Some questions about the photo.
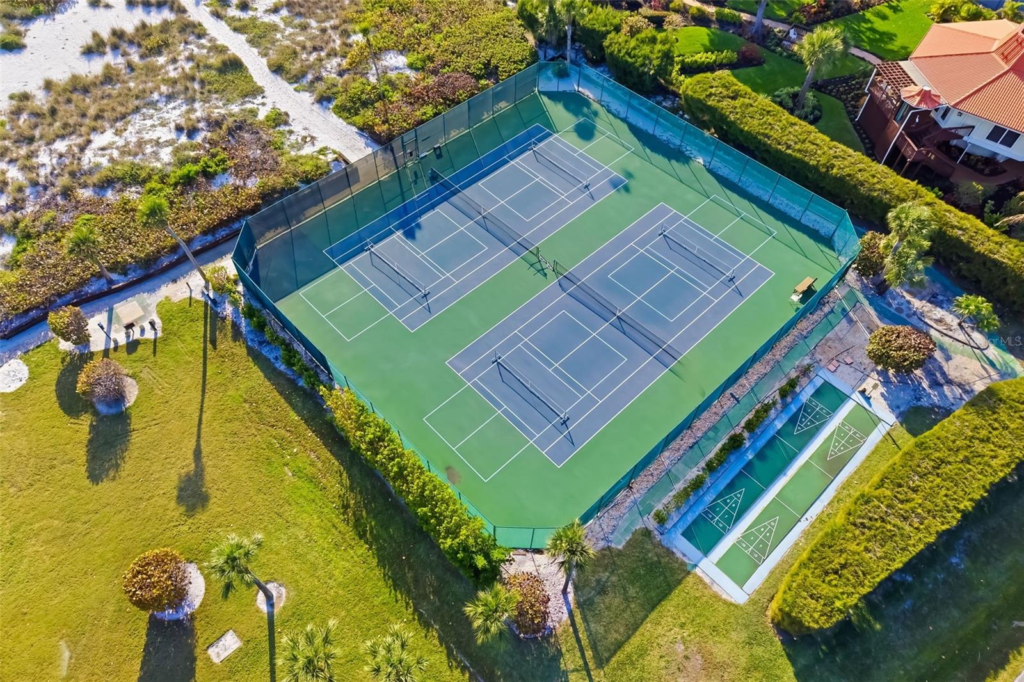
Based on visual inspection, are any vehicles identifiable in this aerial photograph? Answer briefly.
No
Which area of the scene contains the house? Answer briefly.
top right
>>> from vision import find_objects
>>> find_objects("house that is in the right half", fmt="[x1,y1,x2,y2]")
[853,18,1024,198]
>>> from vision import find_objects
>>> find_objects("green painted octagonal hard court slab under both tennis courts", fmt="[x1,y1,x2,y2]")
[248,91,843,550]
